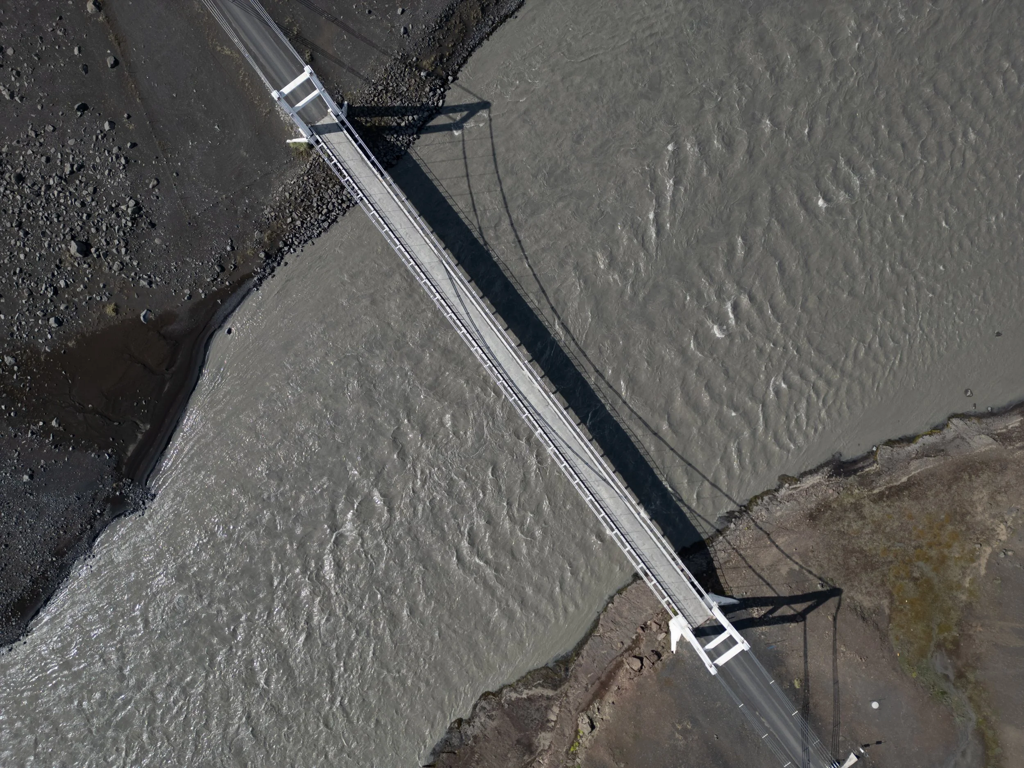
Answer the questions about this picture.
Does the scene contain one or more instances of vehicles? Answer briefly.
No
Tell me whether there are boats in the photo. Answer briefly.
No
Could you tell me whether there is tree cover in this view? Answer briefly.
No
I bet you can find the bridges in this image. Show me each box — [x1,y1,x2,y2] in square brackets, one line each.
[201,0,844,768]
